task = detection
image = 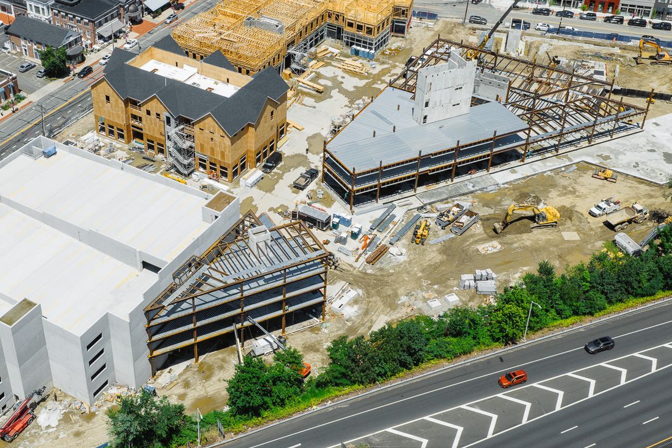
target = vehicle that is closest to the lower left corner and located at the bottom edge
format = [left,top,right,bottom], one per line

[0,399,38,439]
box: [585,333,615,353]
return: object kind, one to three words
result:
car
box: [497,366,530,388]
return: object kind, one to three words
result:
car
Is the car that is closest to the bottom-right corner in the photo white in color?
No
